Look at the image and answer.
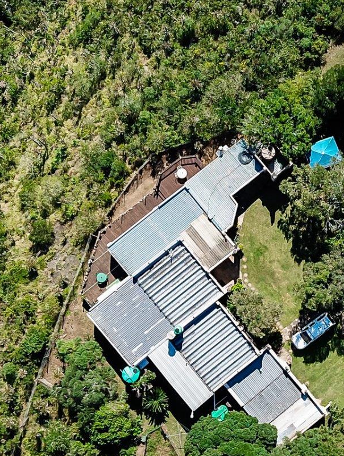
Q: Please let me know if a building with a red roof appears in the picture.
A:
No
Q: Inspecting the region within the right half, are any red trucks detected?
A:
No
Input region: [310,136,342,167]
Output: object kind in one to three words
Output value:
gazebo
